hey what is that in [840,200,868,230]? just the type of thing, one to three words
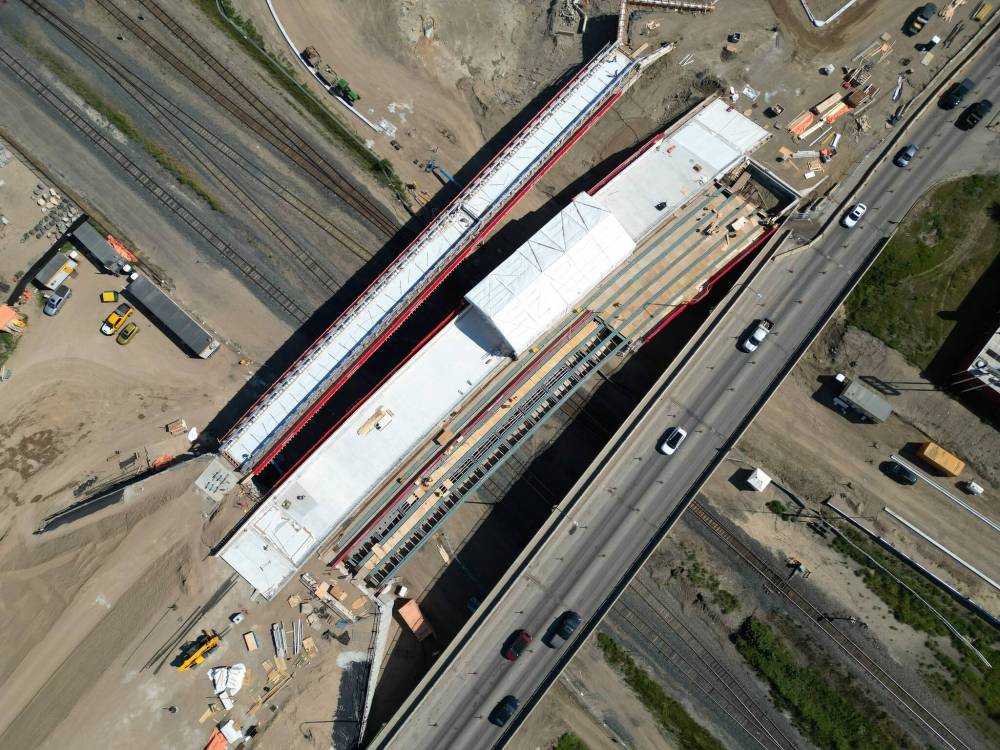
car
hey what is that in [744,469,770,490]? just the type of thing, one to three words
shed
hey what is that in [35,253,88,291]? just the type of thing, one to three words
building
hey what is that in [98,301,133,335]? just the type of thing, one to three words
truck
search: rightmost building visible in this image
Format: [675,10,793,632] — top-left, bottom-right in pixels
[950,302,1000,408]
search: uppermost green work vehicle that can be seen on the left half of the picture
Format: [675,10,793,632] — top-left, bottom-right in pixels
[334,73,360,102]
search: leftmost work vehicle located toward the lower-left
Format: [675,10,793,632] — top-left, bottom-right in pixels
[174,623,225,674]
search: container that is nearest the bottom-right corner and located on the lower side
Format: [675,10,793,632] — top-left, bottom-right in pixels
[913,440,966,477]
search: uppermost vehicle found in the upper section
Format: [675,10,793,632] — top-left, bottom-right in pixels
[908,0,940,35]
